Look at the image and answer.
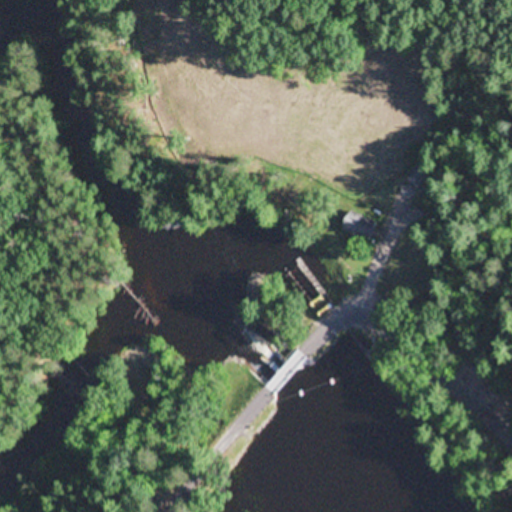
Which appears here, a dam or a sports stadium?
dam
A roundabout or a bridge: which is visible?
bridge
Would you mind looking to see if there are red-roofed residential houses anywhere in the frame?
No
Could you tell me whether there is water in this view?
Yes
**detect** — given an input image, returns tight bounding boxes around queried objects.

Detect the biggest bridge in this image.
[266,350,306,396]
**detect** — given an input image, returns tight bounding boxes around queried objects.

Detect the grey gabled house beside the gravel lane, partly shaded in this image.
[343,212,377,238]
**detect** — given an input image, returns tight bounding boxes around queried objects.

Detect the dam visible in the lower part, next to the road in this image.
[243,328,306,400]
